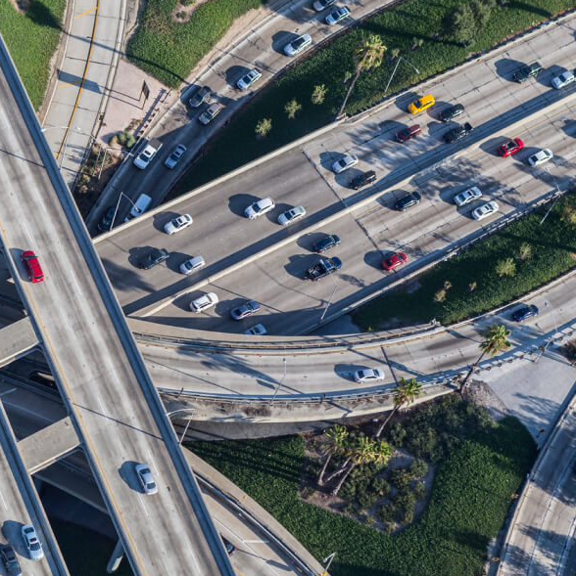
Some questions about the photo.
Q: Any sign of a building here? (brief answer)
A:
No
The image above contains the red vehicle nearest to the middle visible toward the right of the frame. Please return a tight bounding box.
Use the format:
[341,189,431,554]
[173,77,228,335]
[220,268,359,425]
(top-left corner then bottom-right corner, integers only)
[379,251,408,272]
